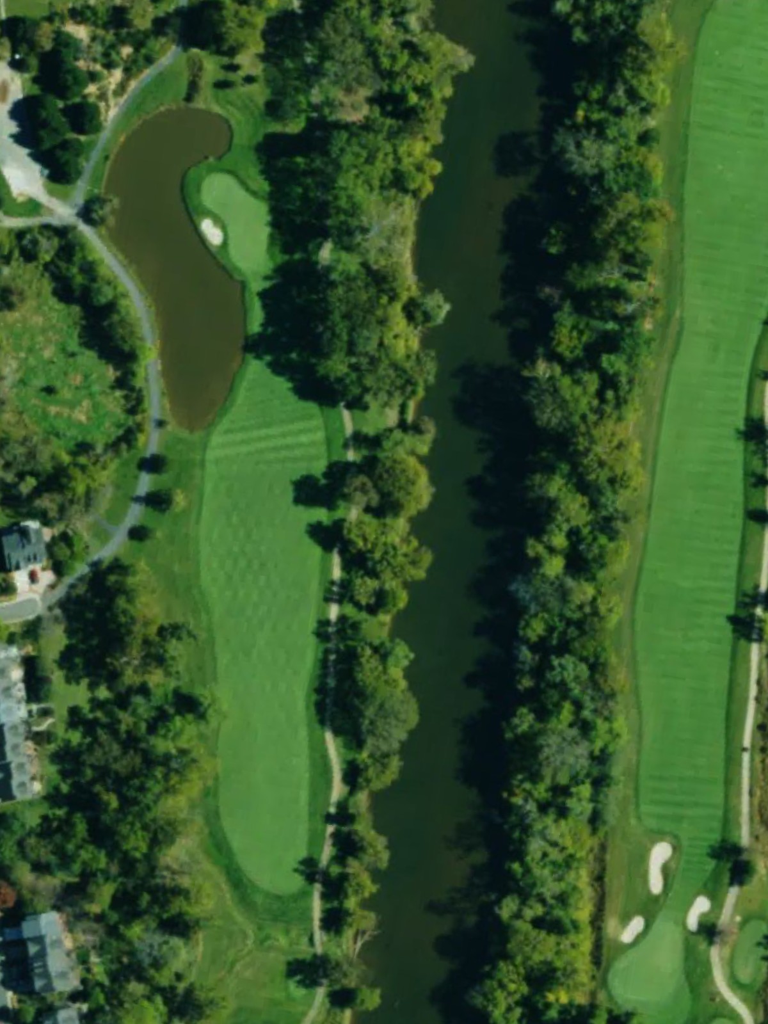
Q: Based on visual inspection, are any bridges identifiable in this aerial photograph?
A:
No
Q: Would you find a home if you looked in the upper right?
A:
No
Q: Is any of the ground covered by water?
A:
Yes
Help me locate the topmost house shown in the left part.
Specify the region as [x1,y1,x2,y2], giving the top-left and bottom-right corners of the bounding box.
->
[5,525,49,571]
